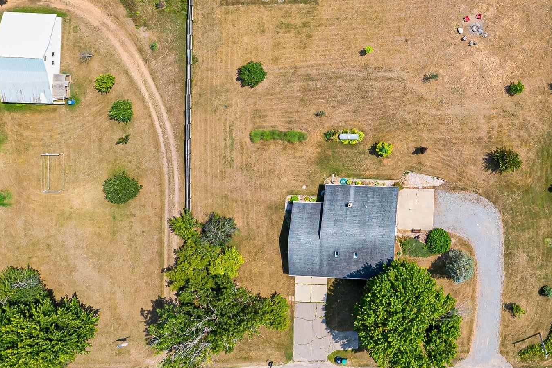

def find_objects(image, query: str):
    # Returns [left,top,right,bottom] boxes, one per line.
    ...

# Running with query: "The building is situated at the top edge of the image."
[0,12,62,103]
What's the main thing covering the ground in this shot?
grass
